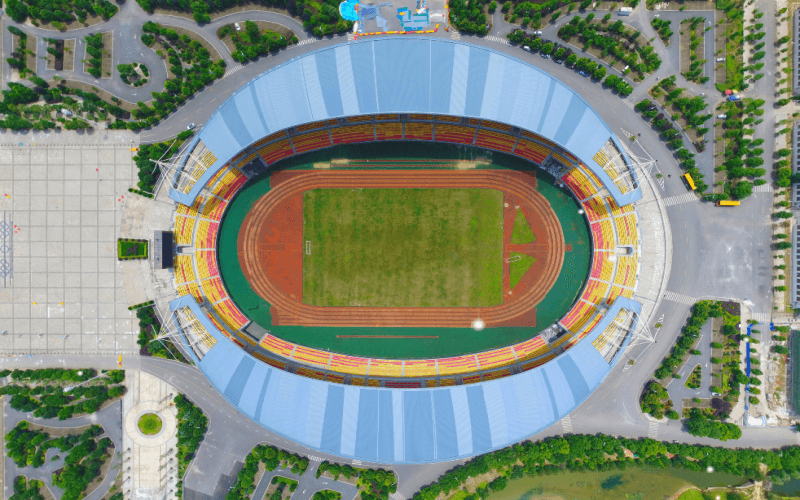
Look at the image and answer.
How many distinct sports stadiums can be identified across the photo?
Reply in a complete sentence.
The picture shows 1 sports stadium.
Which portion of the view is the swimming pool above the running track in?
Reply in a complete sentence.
The swimming pool above the running track is in the top part of the image.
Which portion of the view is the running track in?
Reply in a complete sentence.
The running track is located in the center region of the scene.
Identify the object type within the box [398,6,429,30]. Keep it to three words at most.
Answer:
building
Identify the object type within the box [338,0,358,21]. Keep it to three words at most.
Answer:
swimming pool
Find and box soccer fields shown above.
[302,188,503,307]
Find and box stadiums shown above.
[148,37,660,465]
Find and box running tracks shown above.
[238,170,572,327]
